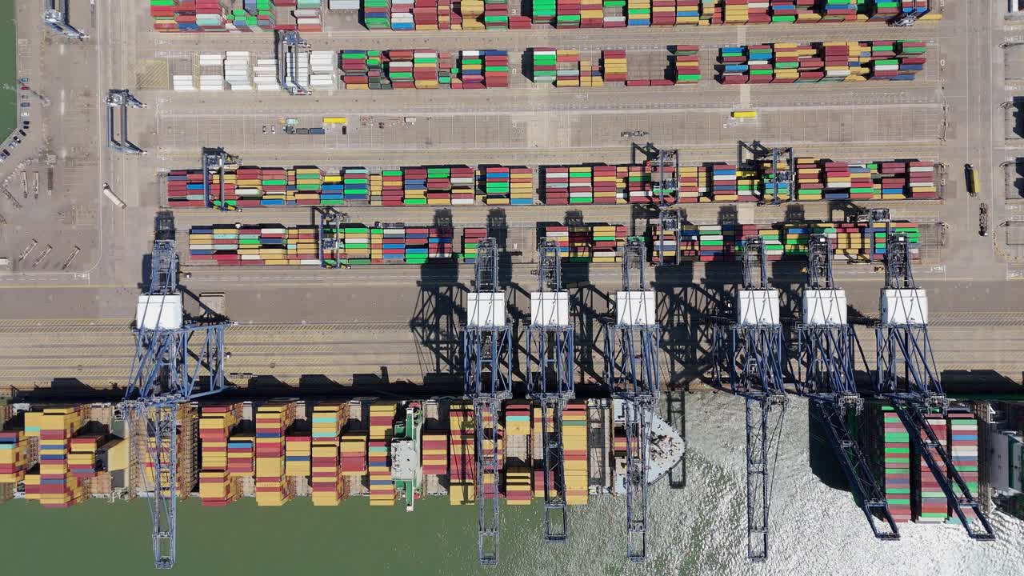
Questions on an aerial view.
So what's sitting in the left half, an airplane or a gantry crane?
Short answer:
gantry crane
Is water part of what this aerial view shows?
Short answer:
Yes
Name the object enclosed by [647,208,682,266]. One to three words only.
container crane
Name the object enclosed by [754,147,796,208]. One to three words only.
container crane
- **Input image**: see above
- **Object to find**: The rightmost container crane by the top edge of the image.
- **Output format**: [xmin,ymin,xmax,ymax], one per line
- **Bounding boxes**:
[883,0,929,27]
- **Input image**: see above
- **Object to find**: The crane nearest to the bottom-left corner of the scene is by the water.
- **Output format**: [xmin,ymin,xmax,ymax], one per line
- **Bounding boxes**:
[119,241,245,571]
